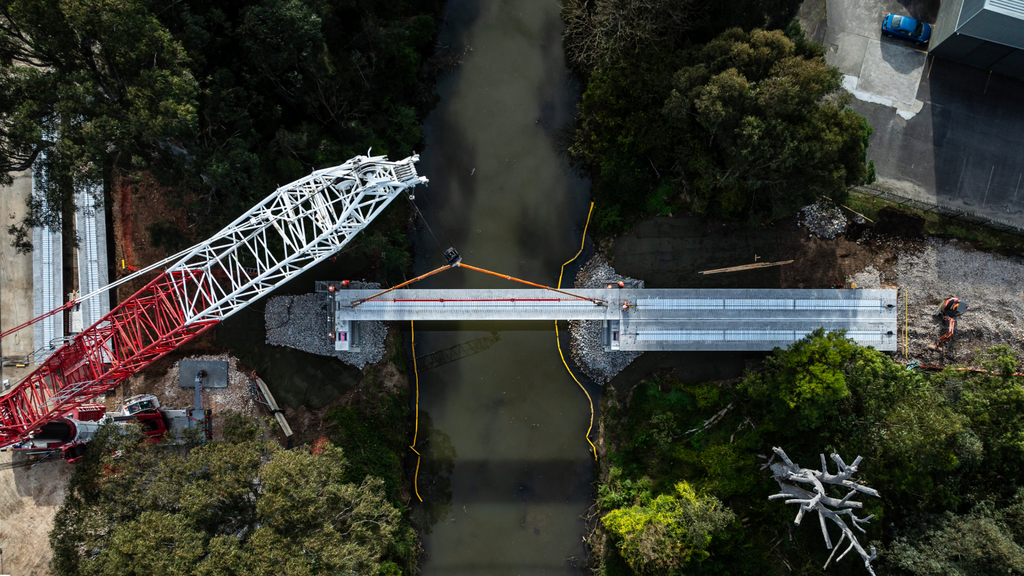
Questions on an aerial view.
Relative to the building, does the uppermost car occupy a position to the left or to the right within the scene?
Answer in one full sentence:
The uppermost car is to the left of the building.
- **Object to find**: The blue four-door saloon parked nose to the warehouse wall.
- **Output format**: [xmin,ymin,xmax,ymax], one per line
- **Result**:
[881,19,932,46]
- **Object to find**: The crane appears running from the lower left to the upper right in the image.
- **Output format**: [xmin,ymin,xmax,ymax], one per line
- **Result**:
[0,147,453,477]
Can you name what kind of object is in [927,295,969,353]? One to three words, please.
work vehicle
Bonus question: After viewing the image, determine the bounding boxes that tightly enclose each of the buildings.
[928,0,1024,79]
